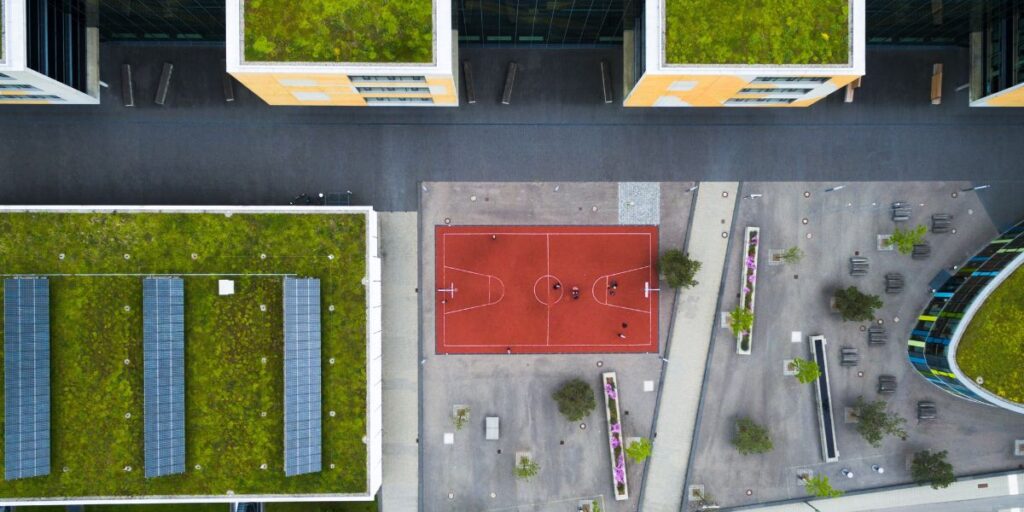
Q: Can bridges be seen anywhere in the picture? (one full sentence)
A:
No, there isn't any bridge down there.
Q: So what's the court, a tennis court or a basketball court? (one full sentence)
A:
I'd identify the court as a basketball court.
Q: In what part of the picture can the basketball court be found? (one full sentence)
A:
The basketball court is located in the center region of the scene.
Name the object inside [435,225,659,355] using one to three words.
basketball court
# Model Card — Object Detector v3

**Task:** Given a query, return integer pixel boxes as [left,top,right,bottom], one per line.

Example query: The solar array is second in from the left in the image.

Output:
[142,275,186,479]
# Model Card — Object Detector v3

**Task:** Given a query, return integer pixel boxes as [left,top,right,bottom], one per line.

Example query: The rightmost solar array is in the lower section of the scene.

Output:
[282,275,321,480]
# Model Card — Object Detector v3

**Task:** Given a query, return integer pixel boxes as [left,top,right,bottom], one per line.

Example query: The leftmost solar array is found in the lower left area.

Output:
[4,275,52,480]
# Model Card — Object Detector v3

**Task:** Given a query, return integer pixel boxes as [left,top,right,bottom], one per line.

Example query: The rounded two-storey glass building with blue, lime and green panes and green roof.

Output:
[907,221,1024,414]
